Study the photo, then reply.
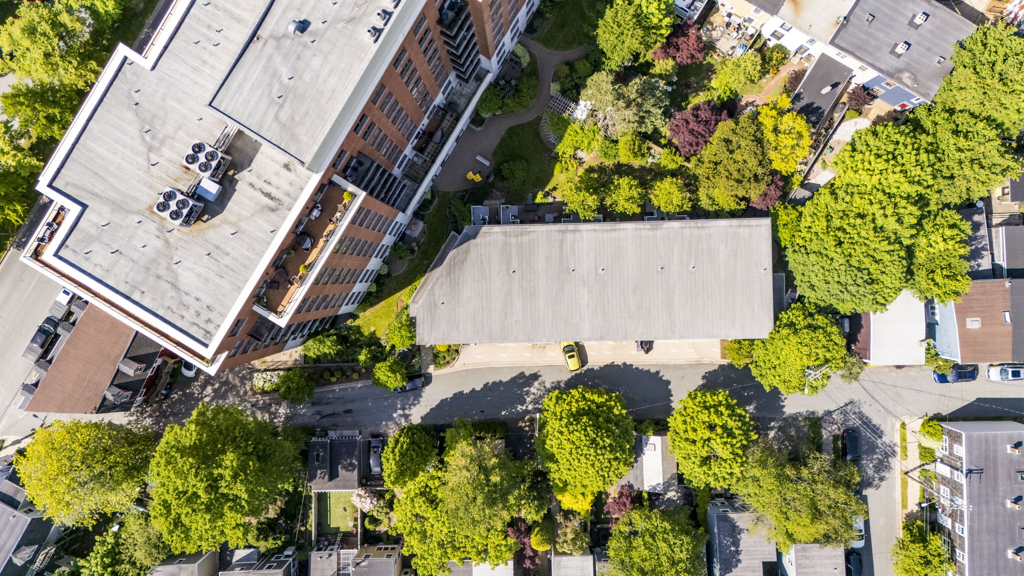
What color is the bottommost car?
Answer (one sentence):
From above, the bottommost car appears black.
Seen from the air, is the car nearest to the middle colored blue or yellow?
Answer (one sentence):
The color of the car nearest to the middle is yellow.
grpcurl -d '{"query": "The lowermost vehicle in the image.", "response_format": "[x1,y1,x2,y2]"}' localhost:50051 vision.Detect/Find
[845,552,865,576]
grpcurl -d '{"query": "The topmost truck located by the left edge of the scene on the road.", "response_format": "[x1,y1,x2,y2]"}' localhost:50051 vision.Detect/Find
[45,284,77,320]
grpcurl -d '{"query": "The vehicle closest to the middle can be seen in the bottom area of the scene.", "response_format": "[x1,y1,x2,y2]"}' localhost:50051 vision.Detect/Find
[558,342,581,373]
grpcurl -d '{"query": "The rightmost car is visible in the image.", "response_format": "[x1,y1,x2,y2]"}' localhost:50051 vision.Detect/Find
[987,363,1024,384]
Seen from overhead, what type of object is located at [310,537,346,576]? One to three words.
house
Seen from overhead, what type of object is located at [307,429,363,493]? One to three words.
house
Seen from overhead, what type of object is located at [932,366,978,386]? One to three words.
car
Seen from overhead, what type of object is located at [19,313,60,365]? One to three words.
truck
